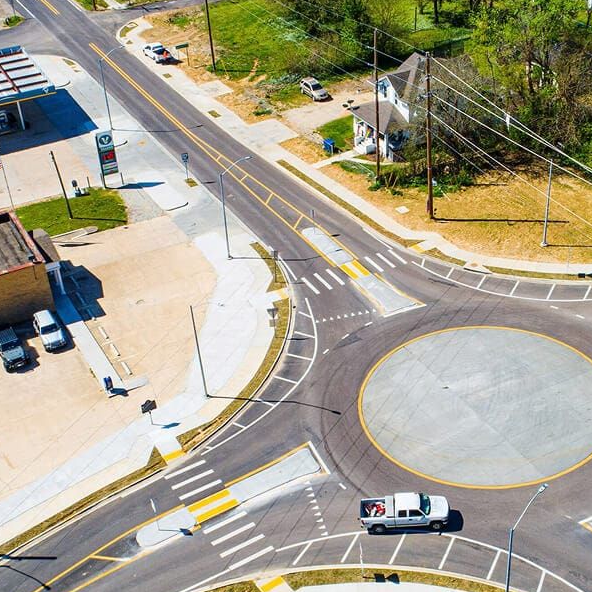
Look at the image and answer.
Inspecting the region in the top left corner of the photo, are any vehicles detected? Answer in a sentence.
Yes, there is a vehicle in the top left corner of the photo.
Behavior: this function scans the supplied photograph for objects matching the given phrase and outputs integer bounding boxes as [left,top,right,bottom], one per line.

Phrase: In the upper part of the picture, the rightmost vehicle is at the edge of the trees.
[298,75,328,99]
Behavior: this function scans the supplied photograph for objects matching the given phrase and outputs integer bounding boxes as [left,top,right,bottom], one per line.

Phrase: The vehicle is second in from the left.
[28,306,71,352]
